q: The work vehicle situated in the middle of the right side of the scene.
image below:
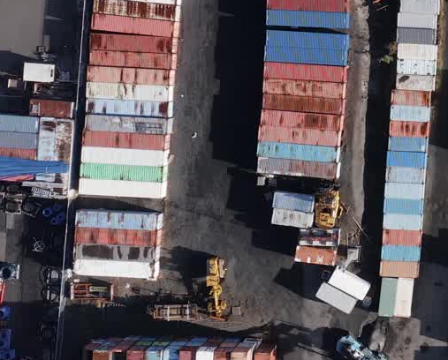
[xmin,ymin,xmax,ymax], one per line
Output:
[316,181,340,229]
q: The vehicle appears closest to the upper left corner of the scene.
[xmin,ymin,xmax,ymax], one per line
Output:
[24,52,63,82]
